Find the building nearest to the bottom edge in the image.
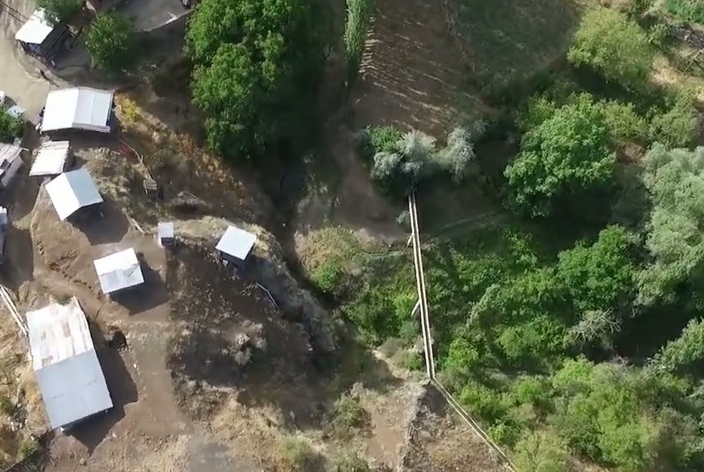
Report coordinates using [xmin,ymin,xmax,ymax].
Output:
[27,297,114,429]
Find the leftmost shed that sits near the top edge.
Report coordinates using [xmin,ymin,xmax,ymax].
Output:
[17,7,62,56]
